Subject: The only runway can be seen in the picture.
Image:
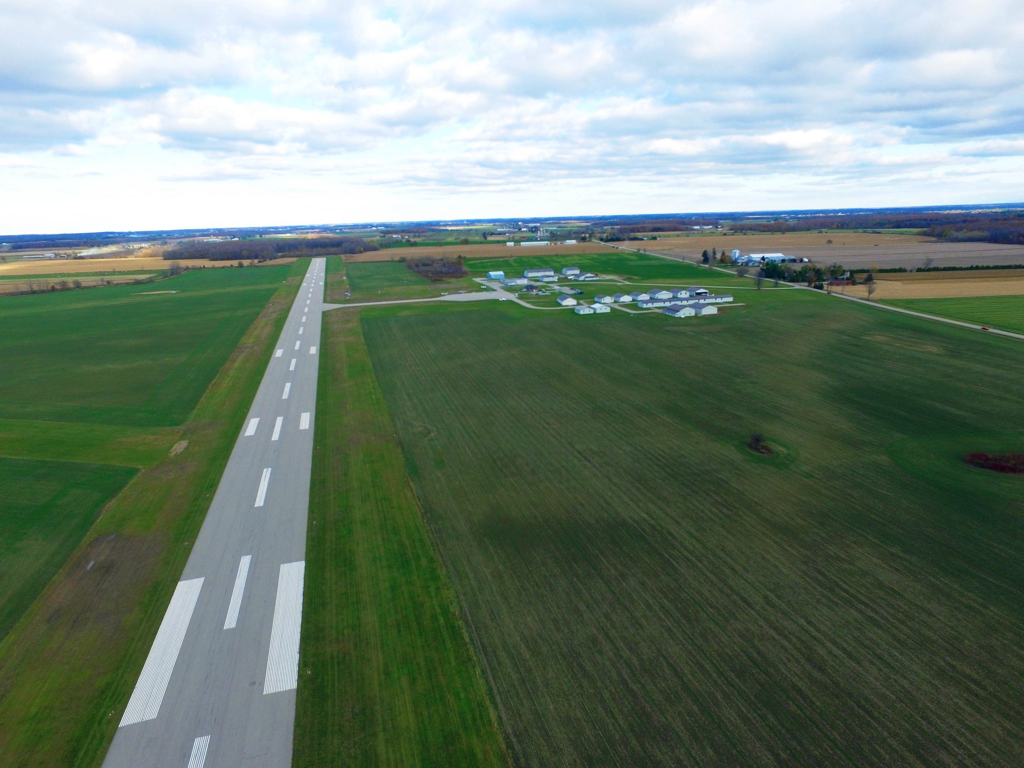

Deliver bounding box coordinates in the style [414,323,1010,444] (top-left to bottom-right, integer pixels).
[102,258,325,768]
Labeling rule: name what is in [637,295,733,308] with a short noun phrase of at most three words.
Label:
hangar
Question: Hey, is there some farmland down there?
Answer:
Yes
